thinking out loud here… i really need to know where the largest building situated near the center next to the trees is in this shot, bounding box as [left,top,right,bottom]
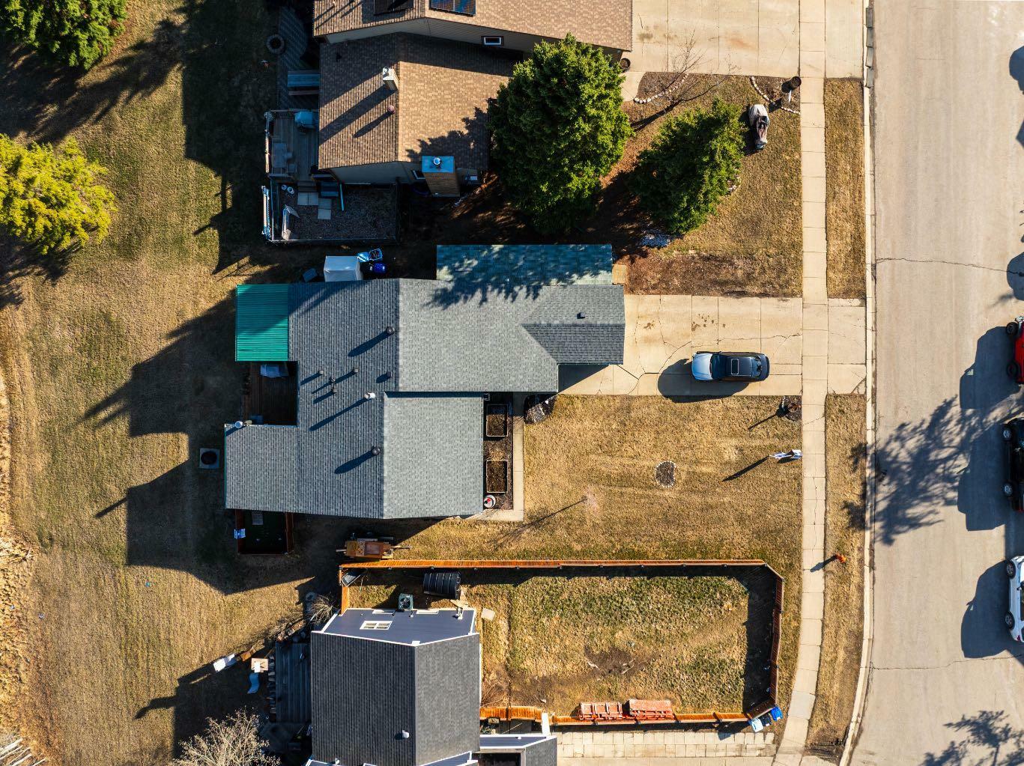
[223,278,627,520]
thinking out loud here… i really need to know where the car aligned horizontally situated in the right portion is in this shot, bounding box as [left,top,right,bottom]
[690,349,771,386]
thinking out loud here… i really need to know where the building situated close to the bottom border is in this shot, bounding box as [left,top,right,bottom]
[309,606,557,766]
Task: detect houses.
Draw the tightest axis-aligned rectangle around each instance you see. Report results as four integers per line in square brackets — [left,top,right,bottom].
[223,278,627,520]
[310,0,634,195]
[309,606,557,766]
